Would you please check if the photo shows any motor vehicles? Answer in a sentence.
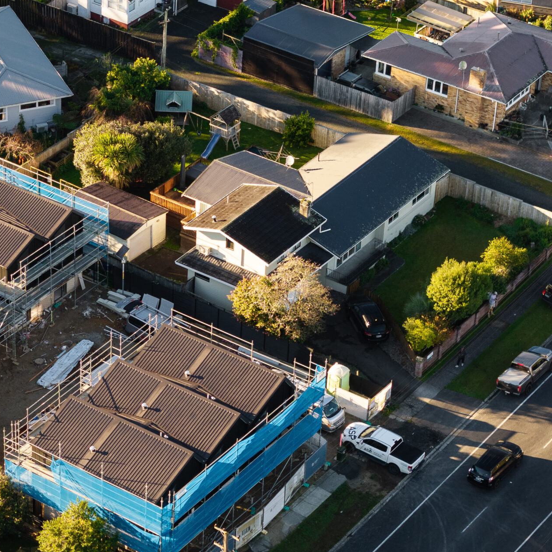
Yes, a motor vehicle appears in the view.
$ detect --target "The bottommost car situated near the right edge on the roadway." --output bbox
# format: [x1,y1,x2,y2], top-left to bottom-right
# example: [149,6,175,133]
[465,439,526,492]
